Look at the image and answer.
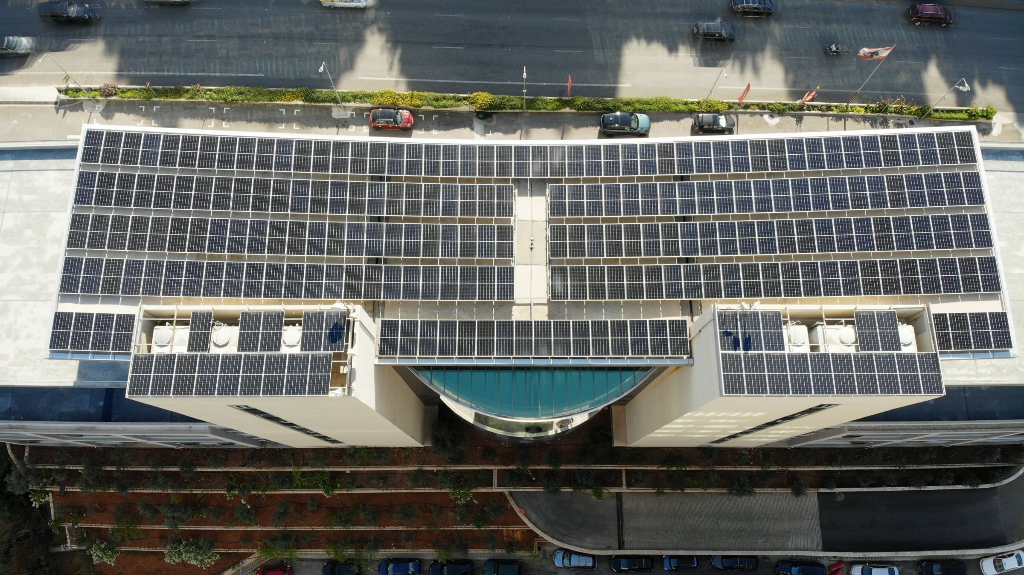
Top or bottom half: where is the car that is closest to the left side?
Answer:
top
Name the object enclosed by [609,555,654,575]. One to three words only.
car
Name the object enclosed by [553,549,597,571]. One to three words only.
car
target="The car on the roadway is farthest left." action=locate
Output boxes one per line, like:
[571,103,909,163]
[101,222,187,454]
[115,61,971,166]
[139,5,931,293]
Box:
[0,35,41,60]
